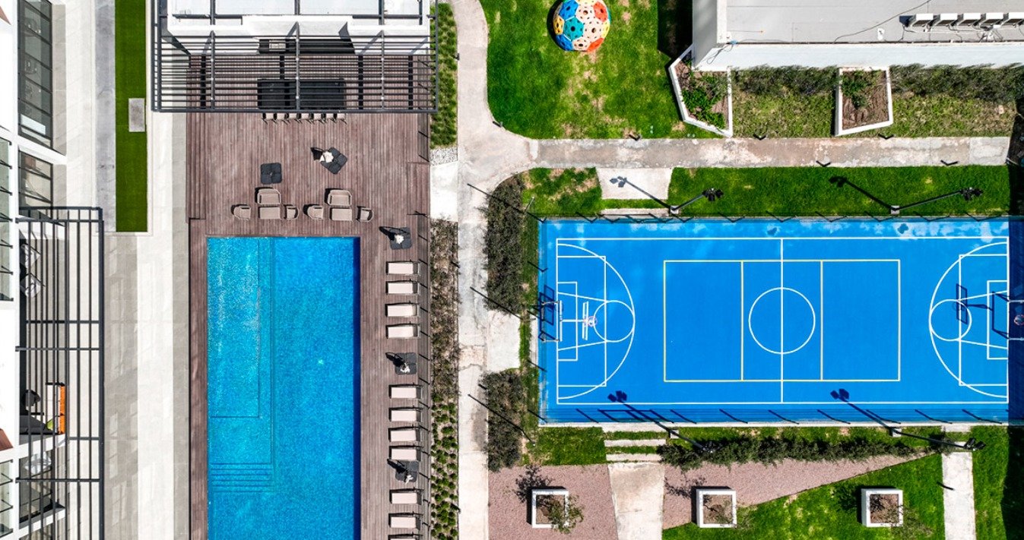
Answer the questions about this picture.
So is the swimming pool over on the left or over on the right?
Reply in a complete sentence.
You can find the swimming pool on the left side of the picture.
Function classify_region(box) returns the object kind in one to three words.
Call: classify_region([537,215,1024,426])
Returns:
sports court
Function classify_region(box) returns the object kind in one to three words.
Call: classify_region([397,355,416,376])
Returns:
umbrella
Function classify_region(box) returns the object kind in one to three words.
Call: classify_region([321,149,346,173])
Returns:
umbrella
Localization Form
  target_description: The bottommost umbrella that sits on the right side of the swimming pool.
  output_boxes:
[396,462,415,488]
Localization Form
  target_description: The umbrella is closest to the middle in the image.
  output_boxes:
[391,229,410,248]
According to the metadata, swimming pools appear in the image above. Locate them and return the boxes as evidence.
[206,235,363,540]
